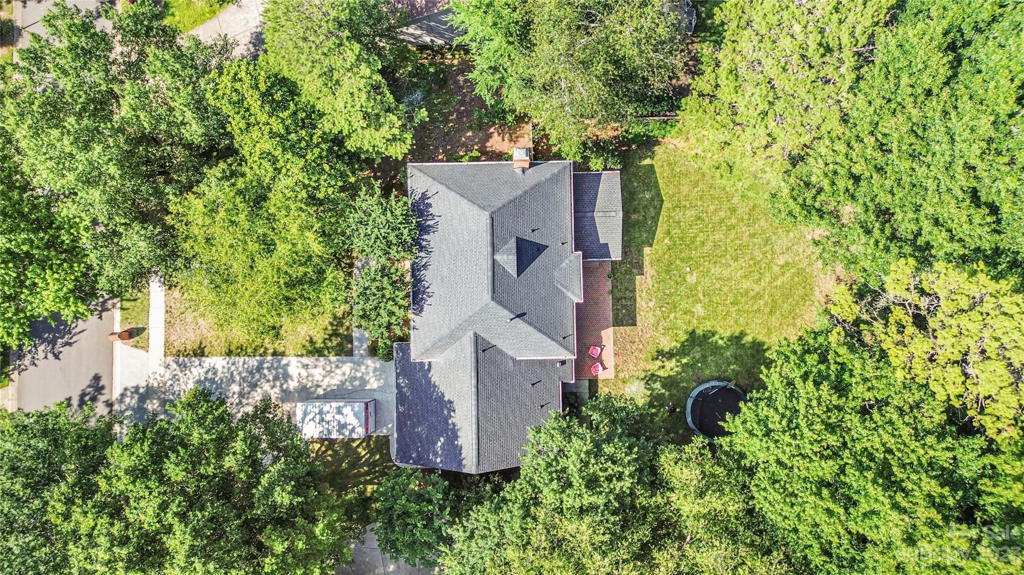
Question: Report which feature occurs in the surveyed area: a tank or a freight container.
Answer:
freight container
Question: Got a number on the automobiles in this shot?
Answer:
0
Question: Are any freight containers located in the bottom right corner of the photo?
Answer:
No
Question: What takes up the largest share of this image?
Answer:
trees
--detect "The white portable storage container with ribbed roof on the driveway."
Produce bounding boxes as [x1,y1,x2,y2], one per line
[297,398,377,438]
